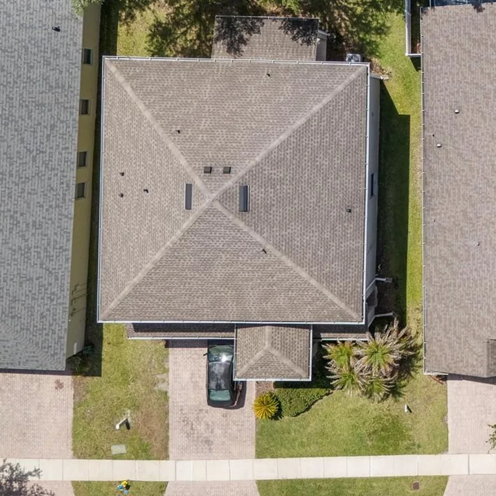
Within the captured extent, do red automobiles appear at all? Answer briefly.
No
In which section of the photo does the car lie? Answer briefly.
bottom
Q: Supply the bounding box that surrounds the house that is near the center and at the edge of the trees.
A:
[97,14,409,379]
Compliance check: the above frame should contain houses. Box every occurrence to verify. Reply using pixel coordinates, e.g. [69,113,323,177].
[0,0,104,372]
[97,14,409,379]
[420,2,496,383]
